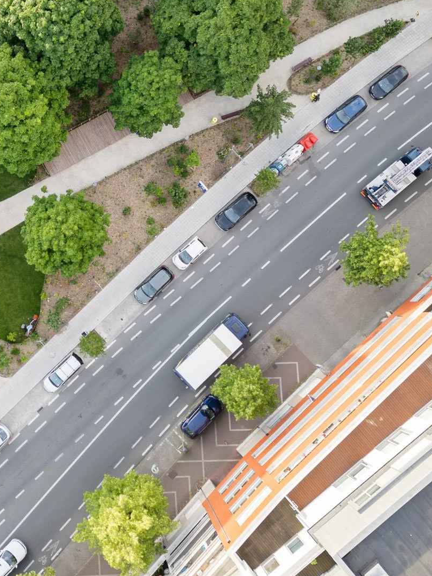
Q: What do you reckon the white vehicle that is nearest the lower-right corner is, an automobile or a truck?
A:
truck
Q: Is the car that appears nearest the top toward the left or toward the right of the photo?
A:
right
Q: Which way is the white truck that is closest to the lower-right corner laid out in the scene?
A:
at an angle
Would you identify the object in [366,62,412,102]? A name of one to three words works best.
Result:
car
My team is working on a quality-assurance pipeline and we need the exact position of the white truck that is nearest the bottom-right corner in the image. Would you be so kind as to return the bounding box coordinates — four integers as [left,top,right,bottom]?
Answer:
[174,306,258,393]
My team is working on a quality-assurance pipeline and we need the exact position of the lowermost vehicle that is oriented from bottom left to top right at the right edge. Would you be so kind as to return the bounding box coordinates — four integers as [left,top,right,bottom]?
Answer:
[355,134,432,217]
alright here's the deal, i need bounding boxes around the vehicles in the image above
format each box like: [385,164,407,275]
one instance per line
[42,350,87,394]
[213,190,260,232]
[170,235,210,272]
[179,393,223,441]
[0,422,13,448]
[366,62,412,102]
[131,262,176,305]
[174,306,258,393]
[0,537,29,576]
[322,93,369,135]
[355,134,432,217]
